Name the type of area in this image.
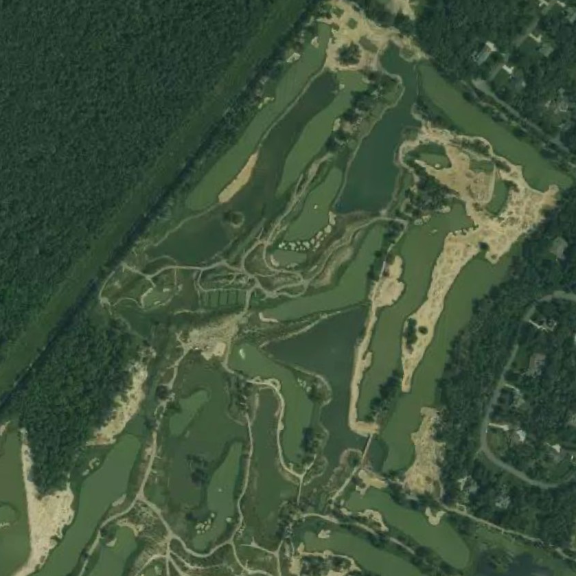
golf course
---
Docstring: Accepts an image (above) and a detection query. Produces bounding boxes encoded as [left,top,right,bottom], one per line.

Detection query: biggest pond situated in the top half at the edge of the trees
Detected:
[336,44,422,212]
